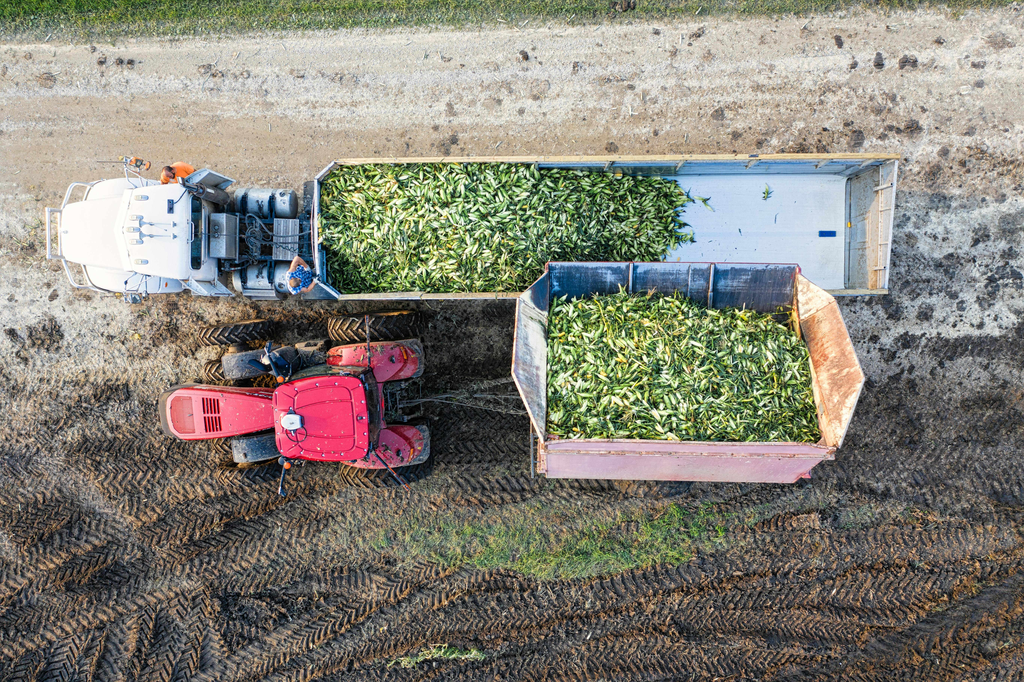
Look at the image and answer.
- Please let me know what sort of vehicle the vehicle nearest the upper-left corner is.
truck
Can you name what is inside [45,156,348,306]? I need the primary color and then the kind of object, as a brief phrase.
white truck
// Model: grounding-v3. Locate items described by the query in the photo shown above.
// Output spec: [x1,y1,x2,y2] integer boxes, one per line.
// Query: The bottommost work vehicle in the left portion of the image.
[159,313,438,498]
